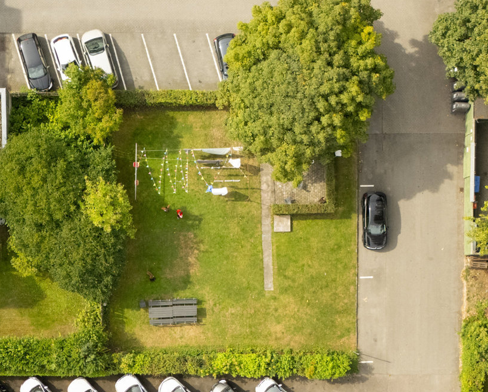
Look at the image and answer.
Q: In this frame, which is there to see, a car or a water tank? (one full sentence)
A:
There is a car in the scene.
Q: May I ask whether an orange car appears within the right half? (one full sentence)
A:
No, no orange car is visible within the right half.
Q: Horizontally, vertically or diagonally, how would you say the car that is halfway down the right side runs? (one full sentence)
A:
I'd say the car that is halfway down the right side is aligned vertically in the picture.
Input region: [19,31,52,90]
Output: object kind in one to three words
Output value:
car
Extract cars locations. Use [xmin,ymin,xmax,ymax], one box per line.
[52,33,85,76]
[255,380,285,392]
[68,377,98,392]
[214,29,236,62]
[19,31,52,90]
[114,375,147,392]
[207,379,238,392]
[20,376,51,392]
[361,190,390,250]
[160,378,191,392]
[85,28,119,84]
